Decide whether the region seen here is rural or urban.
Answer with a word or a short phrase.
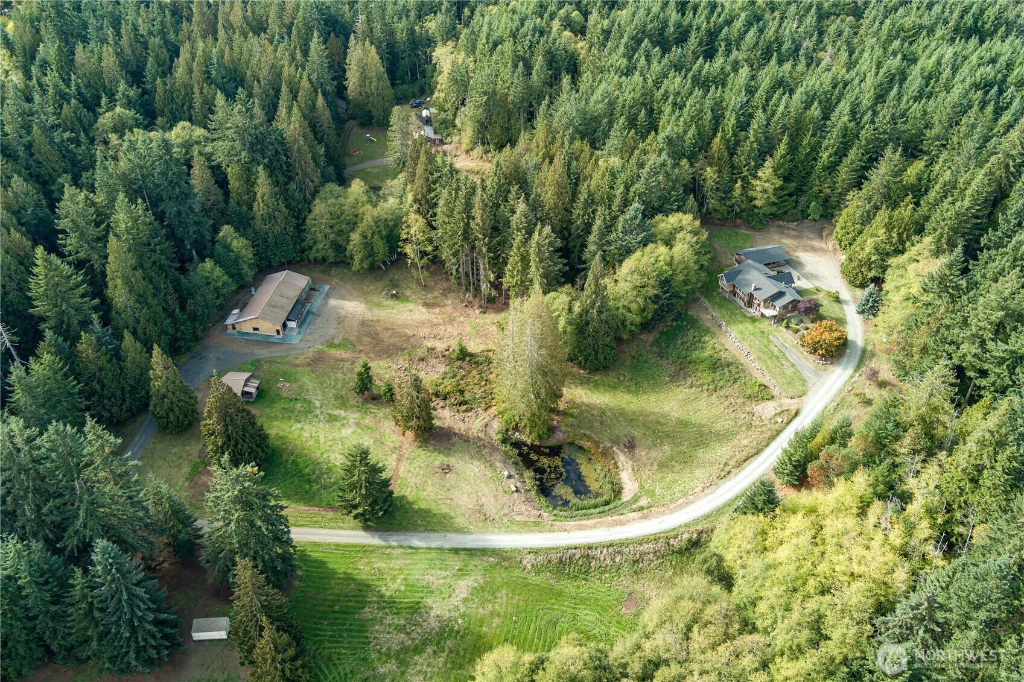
rural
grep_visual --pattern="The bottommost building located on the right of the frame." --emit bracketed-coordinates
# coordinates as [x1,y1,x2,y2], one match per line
[714,259,805,324]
